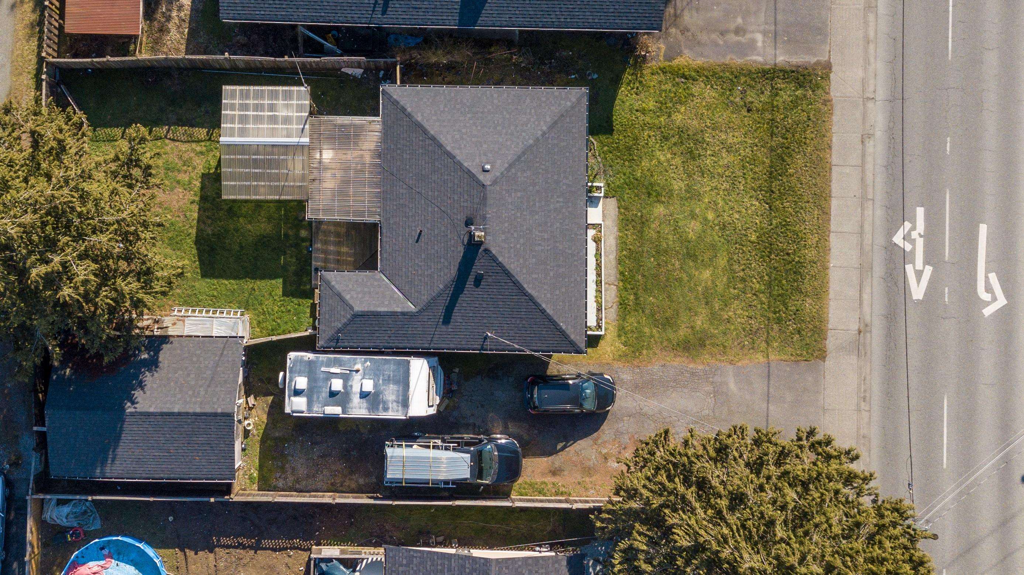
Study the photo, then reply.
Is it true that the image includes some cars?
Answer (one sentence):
Yes, looking at the shot, I can spot a car.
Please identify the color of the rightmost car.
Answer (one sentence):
The color of the rightmost car is black.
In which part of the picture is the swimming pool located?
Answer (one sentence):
You can find the swimming pool in the bottom left area of the picture.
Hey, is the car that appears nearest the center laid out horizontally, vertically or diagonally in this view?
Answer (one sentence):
In this picture, the car that appears nearest the center is oriented horizontally.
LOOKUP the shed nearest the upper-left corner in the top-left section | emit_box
[65,0,152,46]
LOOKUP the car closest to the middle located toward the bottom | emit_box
[524,371,615,417]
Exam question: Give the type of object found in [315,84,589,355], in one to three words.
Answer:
house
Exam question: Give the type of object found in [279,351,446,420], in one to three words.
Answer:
camper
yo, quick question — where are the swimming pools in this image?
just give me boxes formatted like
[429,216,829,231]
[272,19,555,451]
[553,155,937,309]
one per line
[60,526,173,575]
